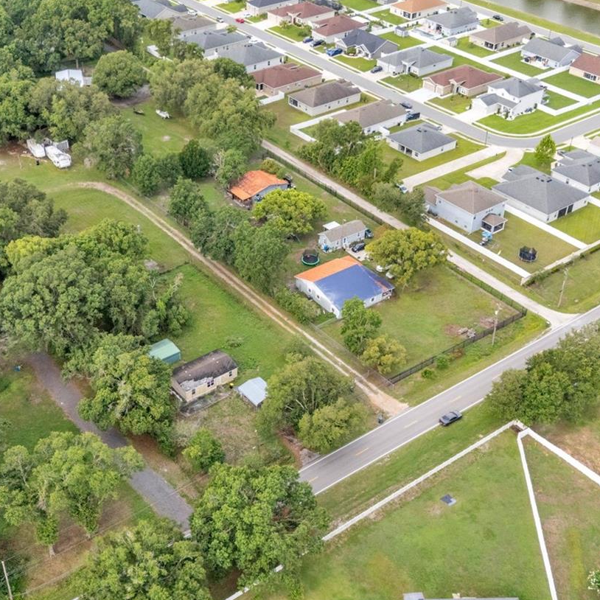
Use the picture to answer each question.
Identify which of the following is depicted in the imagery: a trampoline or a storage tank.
trampoline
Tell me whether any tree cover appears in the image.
Yes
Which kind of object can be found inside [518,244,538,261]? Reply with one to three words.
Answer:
trampoline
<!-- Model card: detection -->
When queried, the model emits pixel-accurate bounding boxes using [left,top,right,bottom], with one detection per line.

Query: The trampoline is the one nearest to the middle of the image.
[301,248,320,265]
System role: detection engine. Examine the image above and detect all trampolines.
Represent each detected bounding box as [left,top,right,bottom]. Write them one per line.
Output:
[301,248,320,265]
[518,244,538,261]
